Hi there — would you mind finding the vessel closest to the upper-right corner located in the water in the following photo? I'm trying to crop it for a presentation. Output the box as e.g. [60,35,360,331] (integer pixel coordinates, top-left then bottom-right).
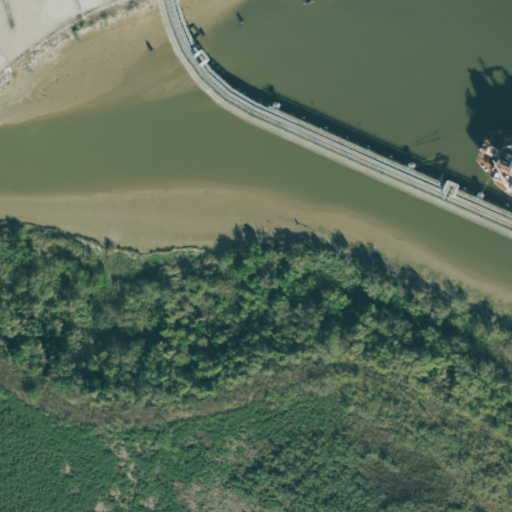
[478,130,512,196]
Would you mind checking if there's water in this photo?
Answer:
Yes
